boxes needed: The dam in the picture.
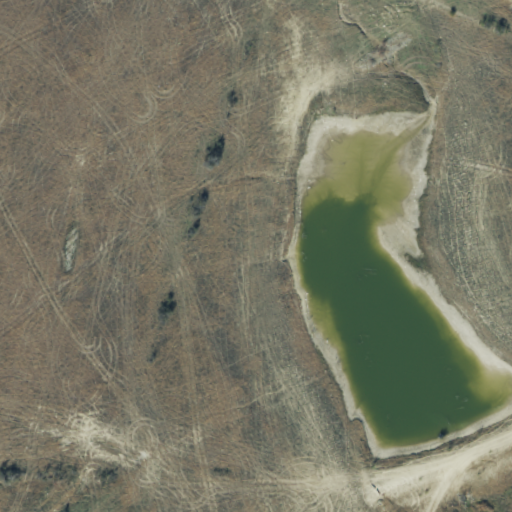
[374,415,512,468]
